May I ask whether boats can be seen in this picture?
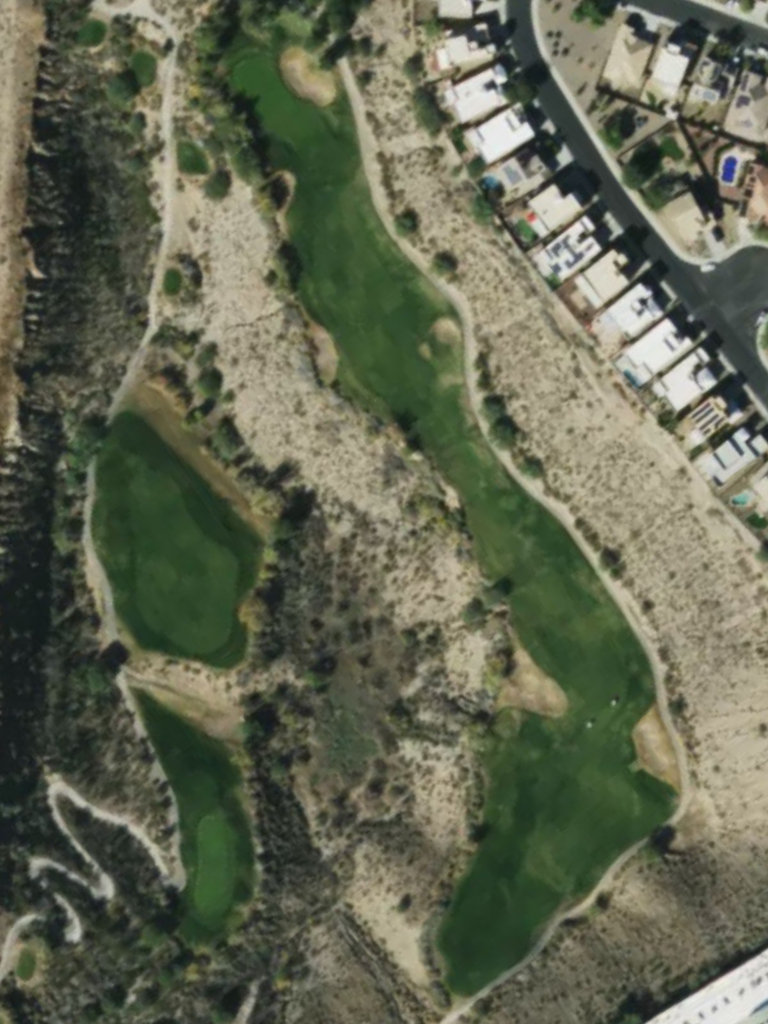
No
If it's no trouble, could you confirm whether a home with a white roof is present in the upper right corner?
Yes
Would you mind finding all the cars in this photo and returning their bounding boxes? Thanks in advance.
[712,226,724,242]
[756,310,768,325]
[700,264,715,271]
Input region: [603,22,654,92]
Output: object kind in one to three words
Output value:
house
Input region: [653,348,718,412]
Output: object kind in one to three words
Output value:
house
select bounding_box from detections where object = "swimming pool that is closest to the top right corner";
[721,154,739,183]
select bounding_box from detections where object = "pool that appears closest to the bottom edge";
[731,490,752,506]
